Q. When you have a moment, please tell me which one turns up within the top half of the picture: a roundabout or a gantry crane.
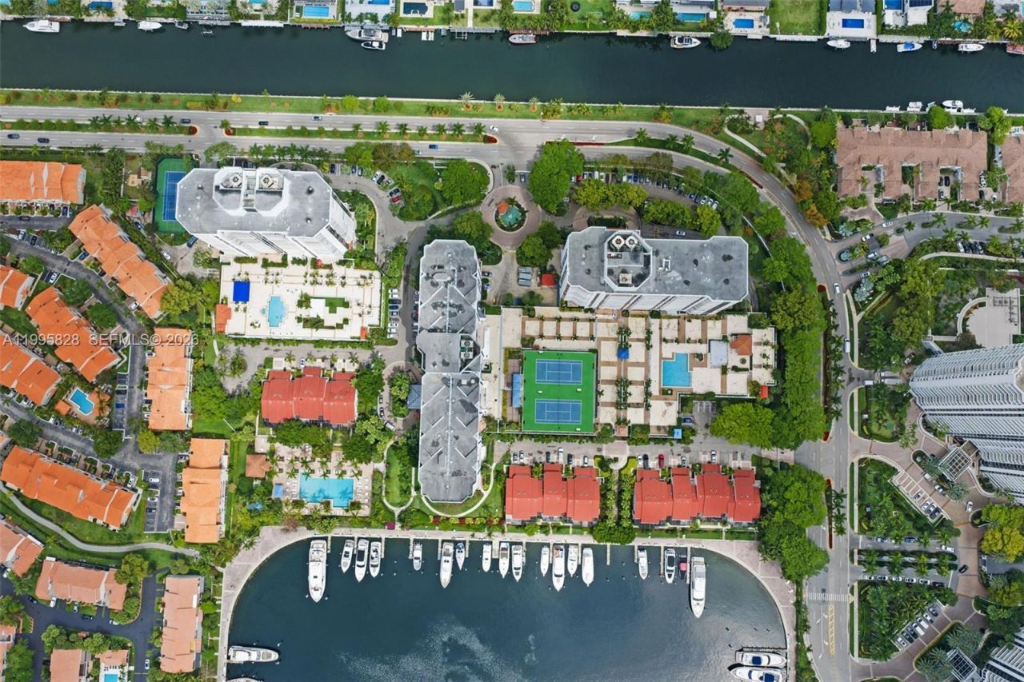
roundabout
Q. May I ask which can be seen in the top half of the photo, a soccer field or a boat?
boat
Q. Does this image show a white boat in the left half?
Yes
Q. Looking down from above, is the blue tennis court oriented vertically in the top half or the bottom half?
top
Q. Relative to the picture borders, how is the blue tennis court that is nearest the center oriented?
horizontally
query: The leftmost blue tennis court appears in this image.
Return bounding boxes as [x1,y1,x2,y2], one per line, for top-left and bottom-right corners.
[163,171,188,221]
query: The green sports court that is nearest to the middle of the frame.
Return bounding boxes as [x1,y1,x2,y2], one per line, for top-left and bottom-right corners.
[522,350,598,434]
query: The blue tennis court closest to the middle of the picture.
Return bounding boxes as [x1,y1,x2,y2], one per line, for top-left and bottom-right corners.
[536,360,582,384]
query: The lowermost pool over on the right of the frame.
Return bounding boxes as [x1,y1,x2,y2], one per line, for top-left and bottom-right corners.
[662,353,693,387]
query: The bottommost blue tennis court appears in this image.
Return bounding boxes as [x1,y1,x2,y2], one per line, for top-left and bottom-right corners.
[535,399,581,425]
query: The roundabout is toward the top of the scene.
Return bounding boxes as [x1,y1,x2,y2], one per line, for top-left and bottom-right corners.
[480,187,541,247]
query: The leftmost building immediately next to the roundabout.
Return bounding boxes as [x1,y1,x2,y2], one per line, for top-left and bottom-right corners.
[415,239,484,374]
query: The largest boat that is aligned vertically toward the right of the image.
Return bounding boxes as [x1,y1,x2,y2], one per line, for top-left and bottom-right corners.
[691,556,706,620]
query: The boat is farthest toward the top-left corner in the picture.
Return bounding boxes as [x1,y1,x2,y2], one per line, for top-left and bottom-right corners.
[21,20,62,32]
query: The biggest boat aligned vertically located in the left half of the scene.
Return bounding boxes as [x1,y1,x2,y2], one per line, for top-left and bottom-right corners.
[308,540,326,604]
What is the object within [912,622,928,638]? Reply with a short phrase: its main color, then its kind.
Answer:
white vehicle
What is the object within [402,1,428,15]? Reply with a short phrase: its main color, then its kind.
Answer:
blue swimming pool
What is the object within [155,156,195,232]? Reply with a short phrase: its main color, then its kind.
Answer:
green sports court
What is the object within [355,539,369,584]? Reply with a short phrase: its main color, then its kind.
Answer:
white boat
